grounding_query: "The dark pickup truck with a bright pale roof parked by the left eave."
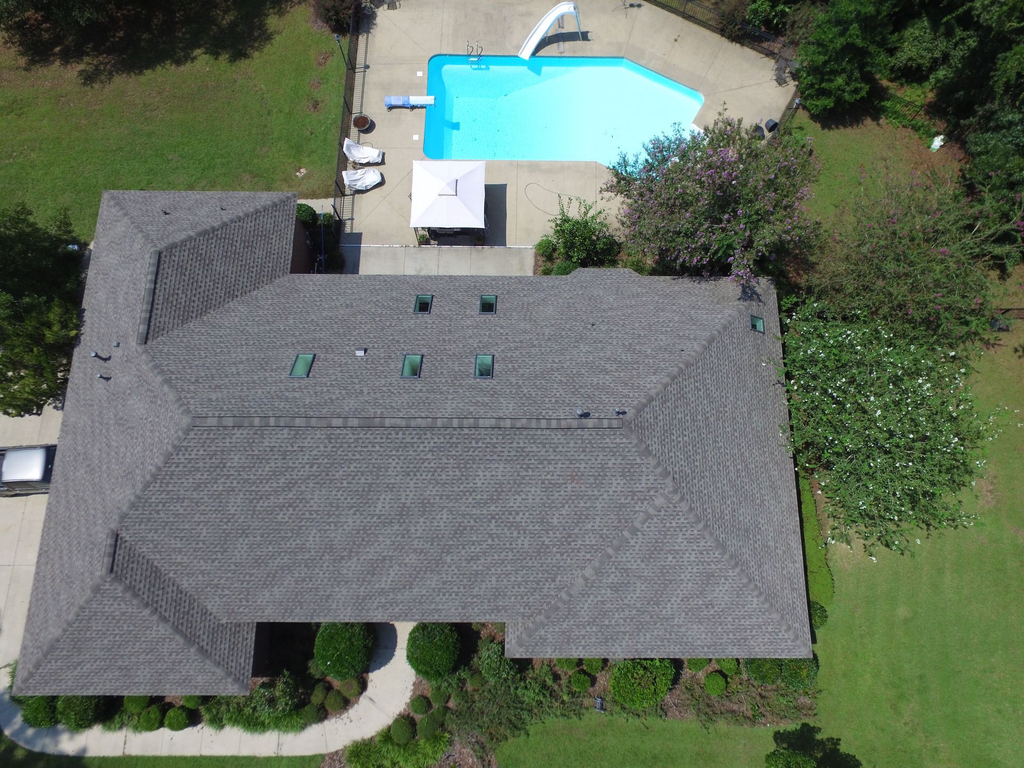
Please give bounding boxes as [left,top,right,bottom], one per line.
[0,442,58,496]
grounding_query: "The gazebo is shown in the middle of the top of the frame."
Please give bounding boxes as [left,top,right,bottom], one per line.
[410,161,485,246]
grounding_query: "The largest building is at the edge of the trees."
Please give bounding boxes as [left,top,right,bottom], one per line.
[13,191,812,695]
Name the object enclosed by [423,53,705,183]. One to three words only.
swimming pool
